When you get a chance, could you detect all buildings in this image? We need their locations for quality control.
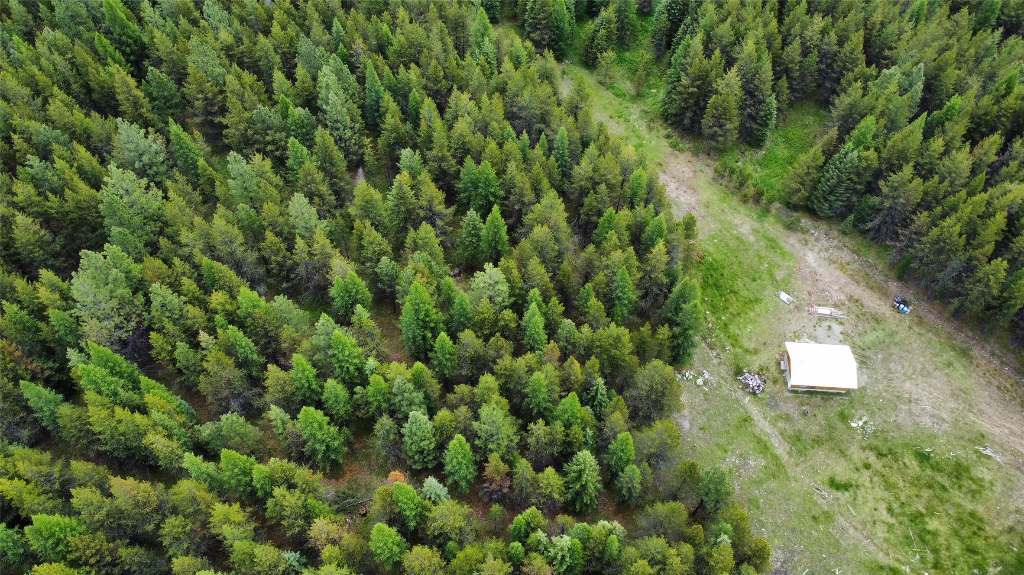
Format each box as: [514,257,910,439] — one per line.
[782,342,857,393]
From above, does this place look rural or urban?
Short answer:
rural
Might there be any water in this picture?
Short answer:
No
